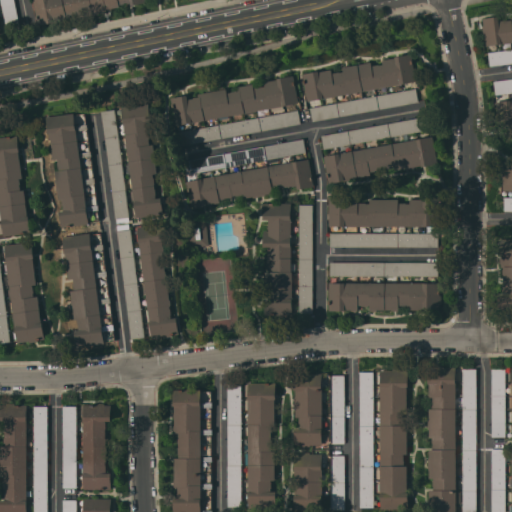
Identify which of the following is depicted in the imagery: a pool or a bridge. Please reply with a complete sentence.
The image shows a pool.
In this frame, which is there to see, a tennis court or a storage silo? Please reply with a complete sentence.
There is a tennis court in the scene.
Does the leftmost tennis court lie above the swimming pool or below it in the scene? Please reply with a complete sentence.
Looking at the scene, the leftmost tennis court is located below the swimming pool.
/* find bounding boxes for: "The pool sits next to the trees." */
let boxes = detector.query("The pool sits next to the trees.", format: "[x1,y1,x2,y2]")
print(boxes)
[210,214,248,258]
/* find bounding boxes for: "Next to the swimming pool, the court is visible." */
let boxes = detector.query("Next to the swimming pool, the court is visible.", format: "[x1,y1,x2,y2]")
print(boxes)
[202,258,239,334]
